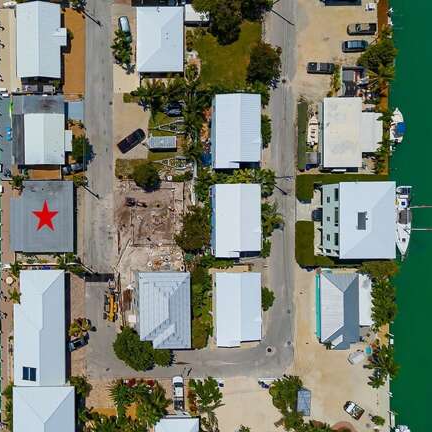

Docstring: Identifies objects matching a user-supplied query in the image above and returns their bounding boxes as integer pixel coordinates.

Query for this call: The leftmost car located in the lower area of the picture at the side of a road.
[66,334,91,352]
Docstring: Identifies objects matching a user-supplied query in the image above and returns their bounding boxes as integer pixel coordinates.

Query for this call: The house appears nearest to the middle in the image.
[213,184,262,258]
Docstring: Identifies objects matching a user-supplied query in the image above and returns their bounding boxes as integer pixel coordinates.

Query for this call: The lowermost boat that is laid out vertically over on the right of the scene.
[396,186,432,262]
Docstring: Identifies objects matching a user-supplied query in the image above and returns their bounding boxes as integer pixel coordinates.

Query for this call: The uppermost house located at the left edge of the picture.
[16,0,67,79]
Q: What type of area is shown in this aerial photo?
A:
residential area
